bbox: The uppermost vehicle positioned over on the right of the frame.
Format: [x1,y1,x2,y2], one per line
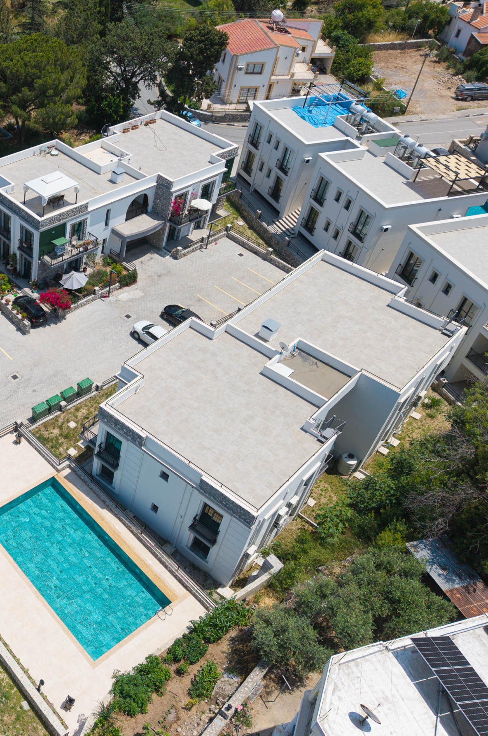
[456,82,488,100]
